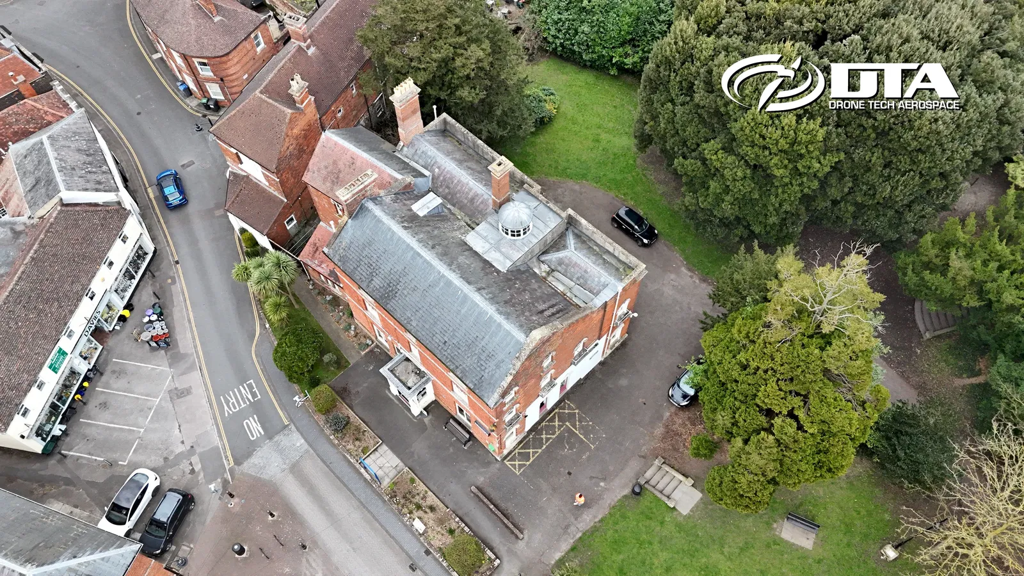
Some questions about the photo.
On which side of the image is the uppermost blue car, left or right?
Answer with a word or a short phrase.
left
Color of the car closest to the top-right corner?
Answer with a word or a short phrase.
black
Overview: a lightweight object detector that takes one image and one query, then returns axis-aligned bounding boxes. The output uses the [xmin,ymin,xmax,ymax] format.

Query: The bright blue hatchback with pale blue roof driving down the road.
[154,171,188,213]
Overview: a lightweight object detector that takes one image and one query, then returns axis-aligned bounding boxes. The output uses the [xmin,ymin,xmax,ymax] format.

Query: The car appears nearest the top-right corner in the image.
[608,205,656,245]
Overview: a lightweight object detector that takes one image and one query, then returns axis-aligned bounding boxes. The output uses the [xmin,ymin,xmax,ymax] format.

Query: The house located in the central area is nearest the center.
[298,76,648,463]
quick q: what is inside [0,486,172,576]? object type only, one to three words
house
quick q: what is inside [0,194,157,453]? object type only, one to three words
building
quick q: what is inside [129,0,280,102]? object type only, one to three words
house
